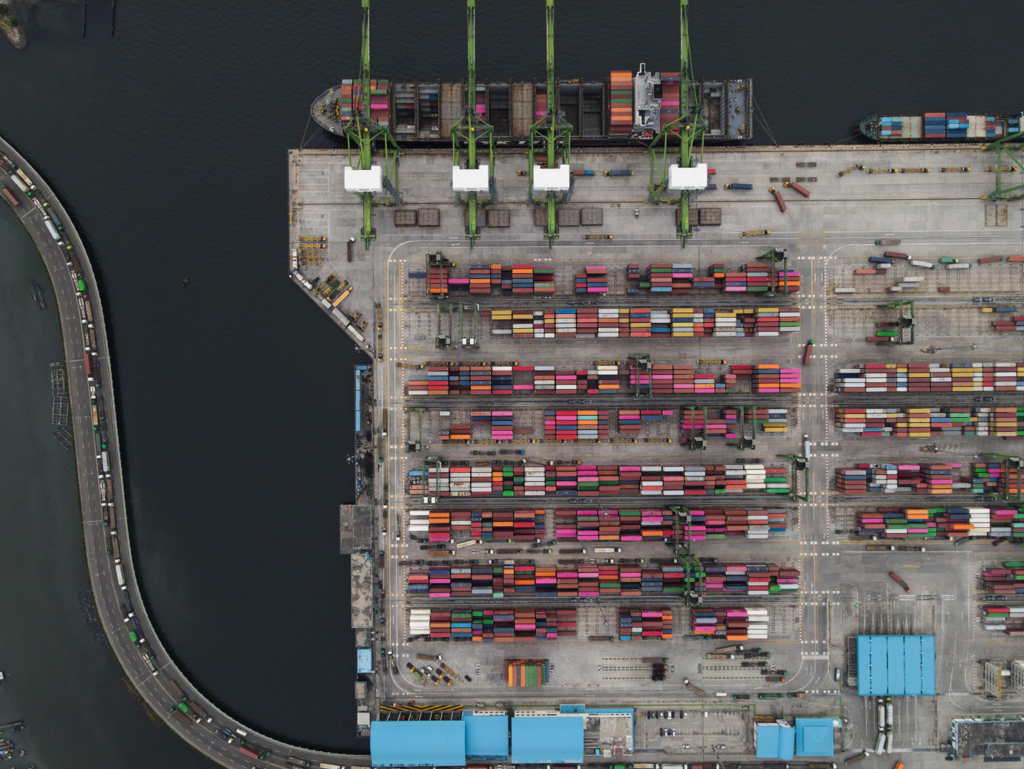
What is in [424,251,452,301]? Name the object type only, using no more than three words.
container crane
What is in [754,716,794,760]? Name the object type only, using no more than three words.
building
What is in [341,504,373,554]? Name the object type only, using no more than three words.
building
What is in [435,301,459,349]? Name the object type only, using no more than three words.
container crane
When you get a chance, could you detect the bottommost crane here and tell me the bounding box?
[673,553,704,607]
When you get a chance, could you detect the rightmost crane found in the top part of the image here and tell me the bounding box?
[976,132,1024,205]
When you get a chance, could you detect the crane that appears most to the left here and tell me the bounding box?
[344,0,407,251]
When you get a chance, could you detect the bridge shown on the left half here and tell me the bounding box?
[0,137,429,769]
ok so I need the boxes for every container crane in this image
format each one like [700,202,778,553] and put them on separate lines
[435,301,459,349]
[724,403,758,450]
[406,405,431,453]
[753,249,789,299]
[625,354,652,400]
[677,403,708,451]
[976,132,1024,205]
[774,453,810,502]
[458,301,484,349]
[977,452,1024,501]
[641,0,707,251]
[673,553,704,607]
[424,251,452,301]
[421,456,448,506]
[344,0,407,251]
[662,502,692,554]
[447,0,503,251]
[875,298,917,346]
[519,0,576,251]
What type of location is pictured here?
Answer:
port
